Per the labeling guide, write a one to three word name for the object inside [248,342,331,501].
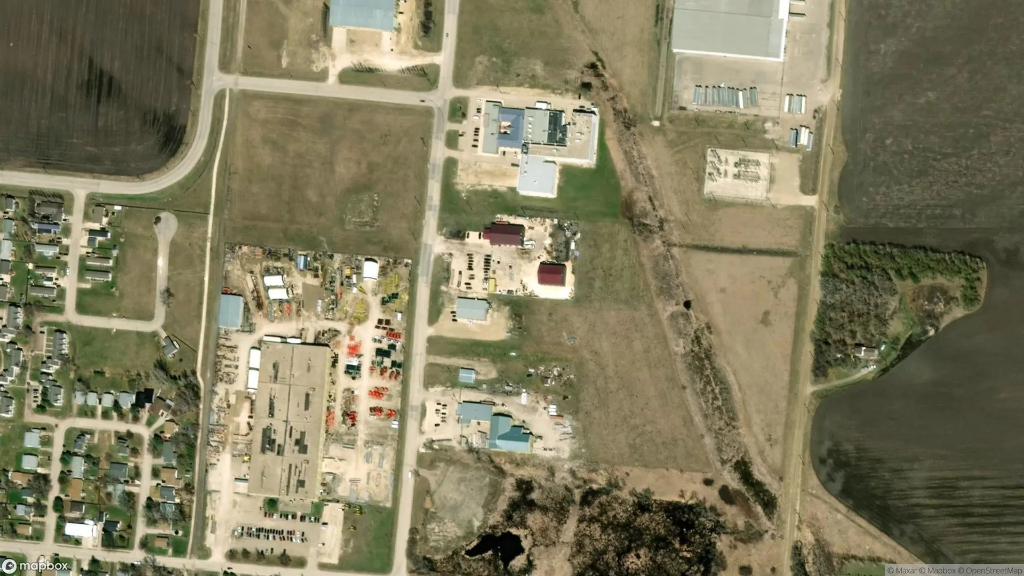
building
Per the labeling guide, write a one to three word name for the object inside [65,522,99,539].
house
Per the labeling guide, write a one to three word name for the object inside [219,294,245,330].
shed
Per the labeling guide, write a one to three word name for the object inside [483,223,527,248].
building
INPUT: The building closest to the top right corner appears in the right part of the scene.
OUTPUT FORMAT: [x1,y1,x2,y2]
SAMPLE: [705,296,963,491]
[672,0,793,61]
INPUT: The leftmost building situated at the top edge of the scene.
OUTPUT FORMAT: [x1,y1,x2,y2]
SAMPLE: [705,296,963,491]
[330,0,398,33]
